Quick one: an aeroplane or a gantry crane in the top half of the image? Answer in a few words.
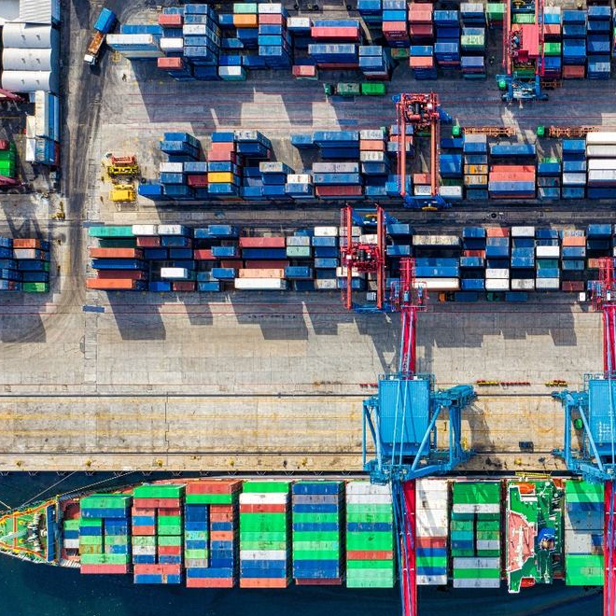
gantry crane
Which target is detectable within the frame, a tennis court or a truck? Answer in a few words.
truck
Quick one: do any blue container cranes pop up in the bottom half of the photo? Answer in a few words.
Yes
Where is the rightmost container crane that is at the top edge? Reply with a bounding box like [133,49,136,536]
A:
[502,0,547,104]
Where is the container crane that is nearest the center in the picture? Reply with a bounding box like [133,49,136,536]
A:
[342,202,406,316]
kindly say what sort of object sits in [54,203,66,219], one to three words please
vehicle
